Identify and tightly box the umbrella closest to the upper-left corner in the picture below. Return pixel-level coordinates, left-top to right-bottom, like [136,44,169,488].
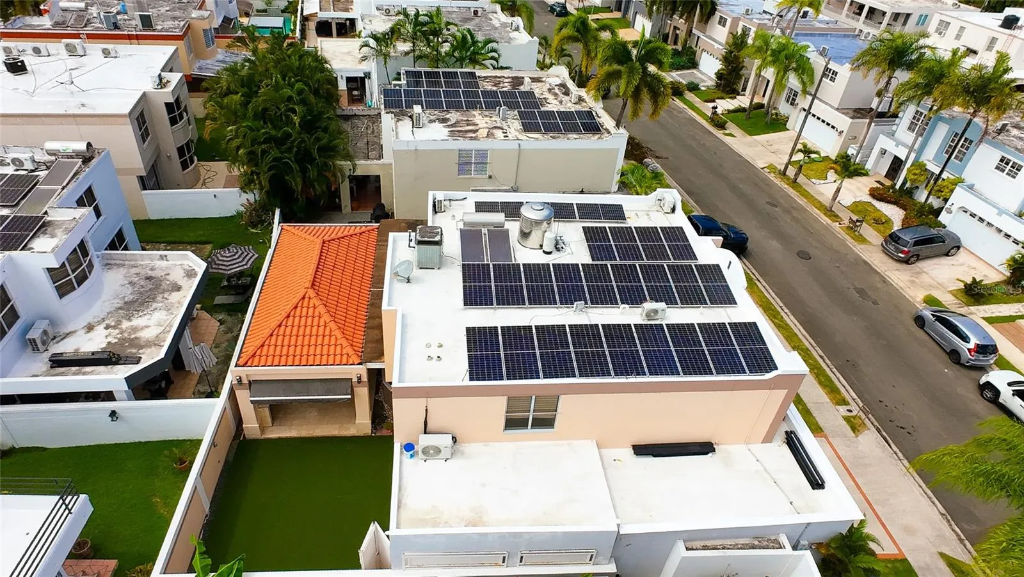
[202,242,263,282]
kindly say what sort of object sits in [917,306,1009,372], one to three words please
car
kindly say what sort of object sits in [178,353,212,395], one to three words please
umbrella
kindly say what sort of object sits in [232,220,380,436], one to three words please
gazebo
